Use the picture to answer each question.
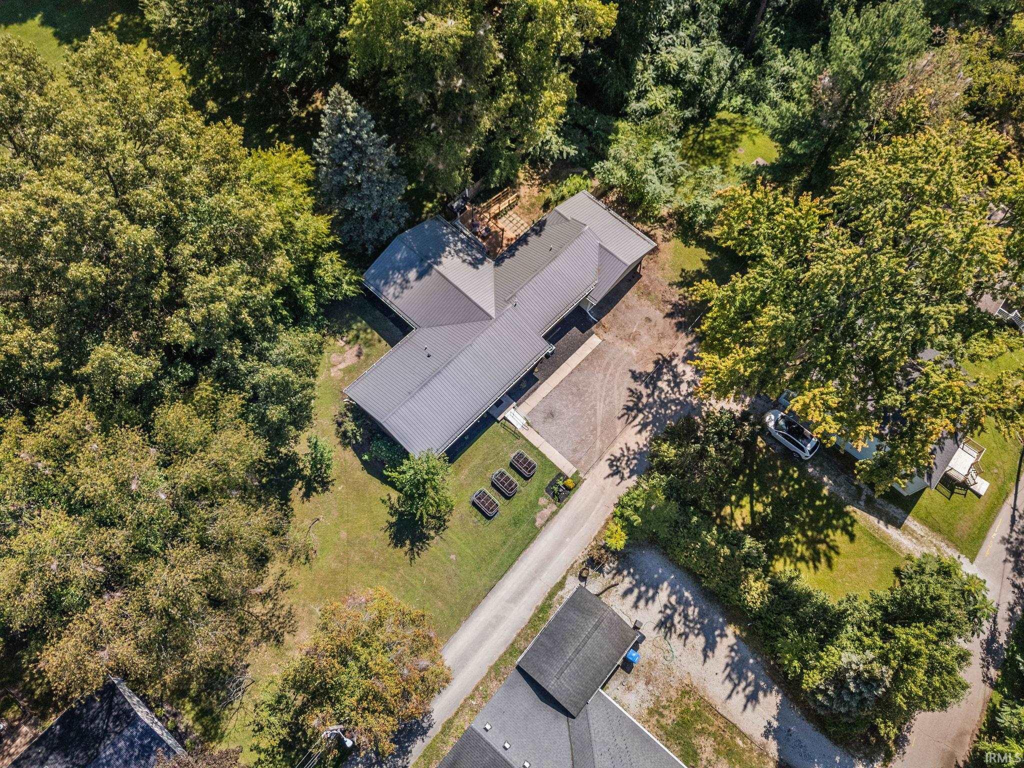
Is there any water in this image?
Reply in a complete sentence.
No, the picture contains no water.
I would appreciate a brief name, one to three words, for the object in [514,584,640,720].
building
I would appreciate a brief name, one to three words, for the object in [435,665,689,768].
house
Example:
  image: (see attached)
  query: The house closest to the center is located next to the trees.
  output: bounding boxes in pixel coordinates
[343,192,658,470]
